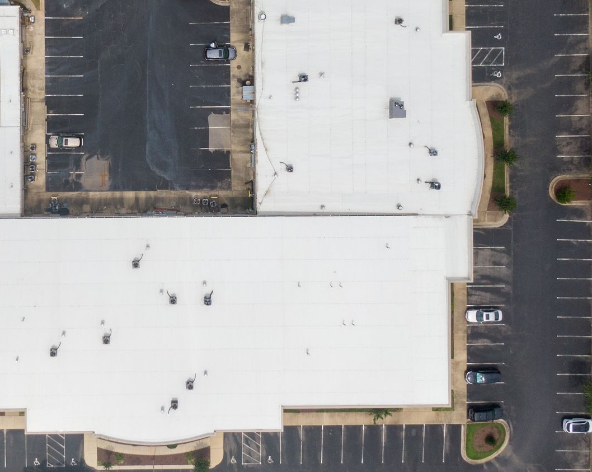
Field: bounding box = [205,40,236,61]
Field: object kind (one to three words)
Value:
car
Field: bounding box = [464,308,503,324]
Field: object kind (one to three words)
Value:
car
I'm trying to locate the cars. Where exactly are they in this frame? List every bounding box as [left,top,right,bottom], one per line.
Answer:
[464,368,503,386]
[562,417,592,434]
[467,405,502,423]
[464,308,503,324]
[205,40,236,61]
[49,132,84,149]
